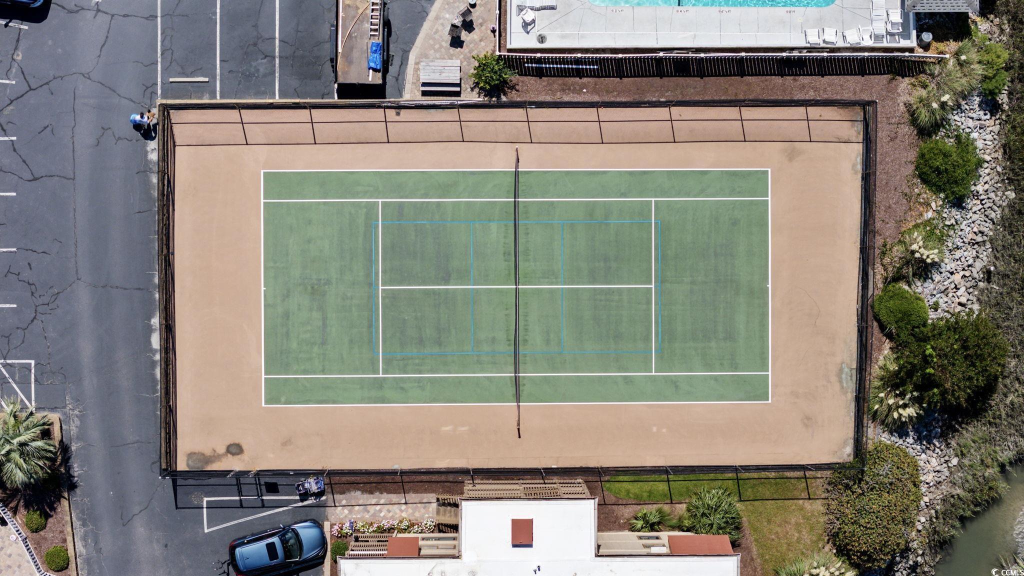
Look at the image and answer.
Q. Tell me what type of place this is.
sports ground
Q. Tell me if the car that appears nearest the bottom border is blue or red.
blue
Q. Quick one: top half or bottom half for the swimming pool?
top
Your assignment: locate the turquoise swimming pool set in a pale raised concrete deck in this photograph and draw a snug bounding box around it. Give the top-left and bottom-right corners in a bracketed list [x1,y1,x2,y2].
[507,0,917,48]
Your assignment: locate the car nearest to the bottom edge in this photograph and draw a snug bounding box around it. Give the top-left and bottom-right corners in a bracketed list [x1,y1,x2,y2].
[217,517,328,576]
